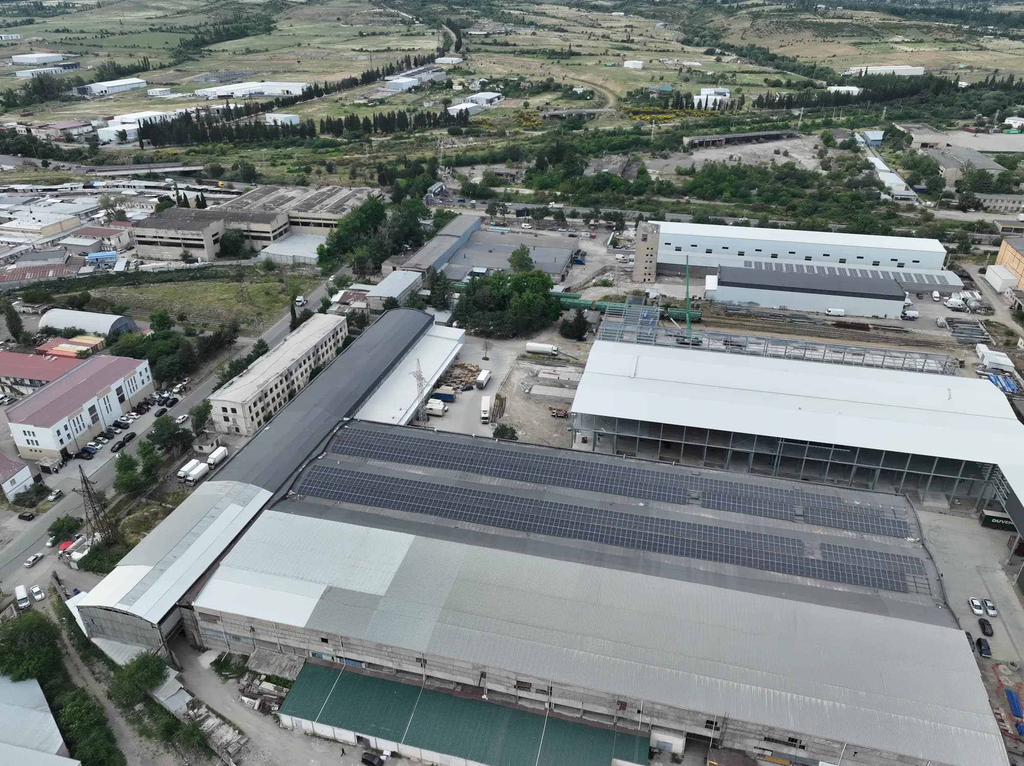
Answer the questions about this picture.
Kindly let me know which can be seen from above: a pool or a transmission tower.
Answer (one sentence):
The image shows a transmission tower.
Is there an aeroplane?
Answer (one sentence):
No, this view has no aeroplane in it.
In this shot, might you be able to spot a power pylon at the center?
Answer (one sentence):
Yes, a power pylon shows up at the center.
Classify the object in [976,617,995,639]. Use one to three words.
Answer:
car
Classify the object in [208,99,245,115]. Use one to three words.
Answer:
building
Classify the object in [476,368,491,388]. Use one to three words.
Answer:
vehicle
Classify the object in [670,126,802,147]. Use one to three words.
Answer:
shed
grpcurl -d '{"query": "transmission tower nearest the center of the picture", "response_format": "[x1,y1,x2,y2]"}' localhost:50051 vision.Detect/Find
[407,361,428,423]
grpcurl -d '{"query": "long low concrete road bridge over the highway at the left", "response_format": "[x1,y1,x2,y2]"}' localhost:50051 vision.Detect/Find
[76,163,209,185]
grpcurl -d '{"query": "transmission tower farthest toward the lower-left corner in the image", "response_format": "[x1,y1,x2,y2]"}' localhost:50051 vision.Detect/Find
[60,460,115,545]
